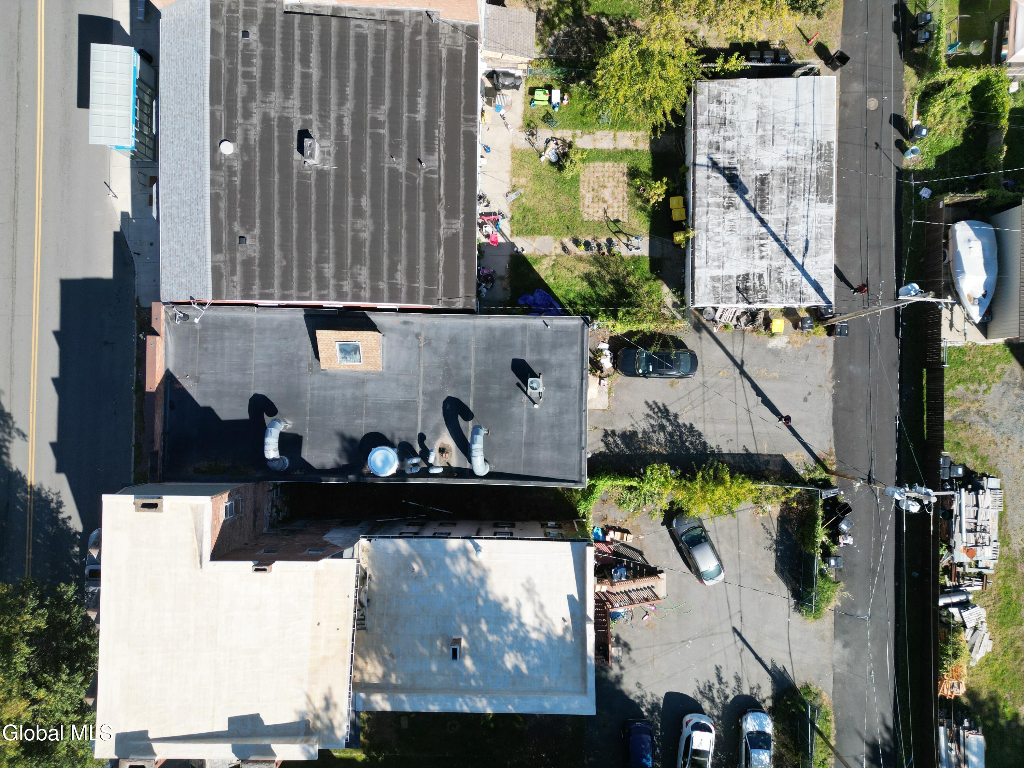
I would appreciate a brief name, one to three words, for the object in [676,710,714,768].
car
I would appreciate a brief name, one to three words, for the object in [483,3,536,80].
shed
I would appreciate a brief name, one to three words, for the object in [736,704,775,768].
car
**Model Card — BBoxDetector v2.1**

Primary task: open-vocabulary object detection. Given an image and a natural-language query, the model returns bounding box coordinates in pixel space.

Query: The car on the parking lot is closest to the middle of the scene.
[616,345,699,383]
